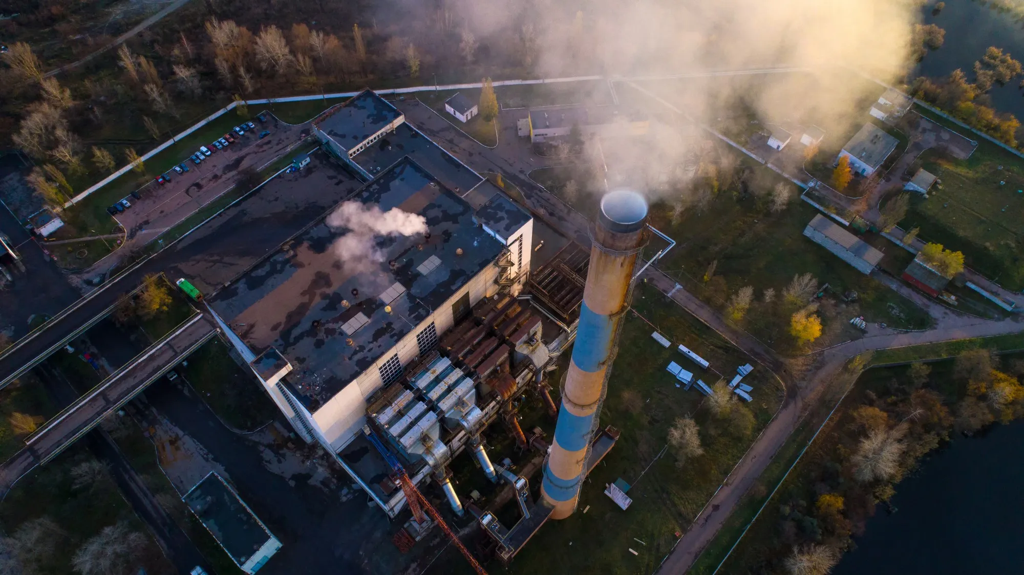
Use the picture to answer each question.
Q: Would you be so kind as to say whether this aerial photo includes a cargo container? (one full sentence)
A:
Yes, this view includes a cargo container.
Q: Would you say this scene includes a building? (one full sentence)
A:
Yes, there's a building here.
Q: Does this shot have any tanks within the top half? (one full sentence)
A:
No, I can find no tank within the top half.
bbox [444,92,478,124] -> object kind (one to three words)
house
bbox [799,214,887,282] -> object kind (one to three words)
barn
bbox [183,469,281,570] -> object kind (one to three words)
building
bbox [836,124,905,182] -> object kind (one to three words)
building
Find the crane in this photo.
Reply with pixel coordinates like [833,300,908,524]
[350,413,489,575]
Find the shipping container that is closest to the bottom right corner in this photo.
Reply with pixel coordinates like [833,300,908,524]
[677,345,709,371]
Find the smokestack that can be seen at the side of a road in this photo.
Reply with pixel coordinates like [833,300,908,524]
[547,187,651,514]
